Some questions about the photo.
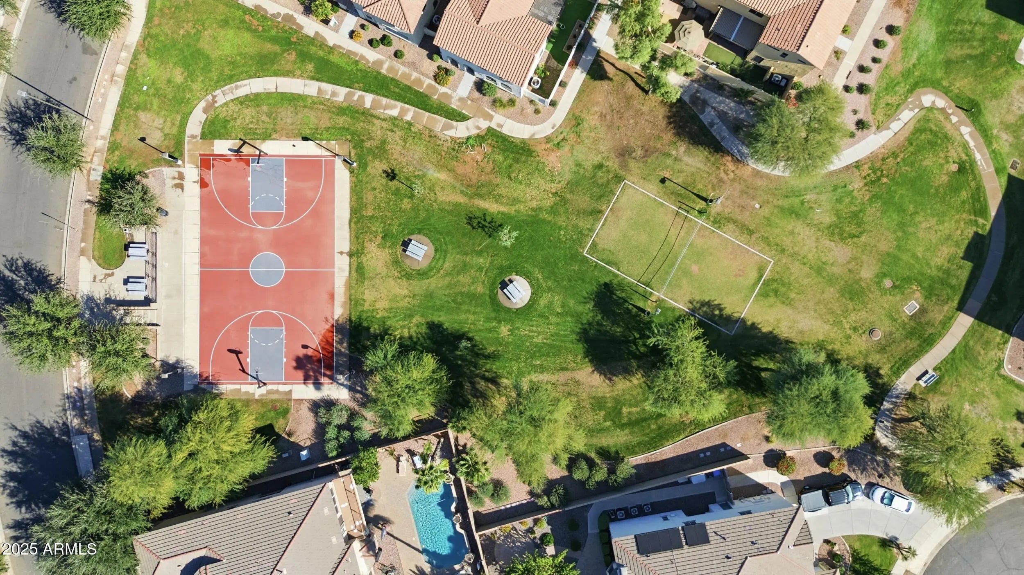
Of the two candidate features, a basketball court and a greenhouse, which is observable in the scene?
basketball court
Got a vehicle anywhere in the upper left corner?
No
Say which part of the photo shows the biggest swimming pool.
bottom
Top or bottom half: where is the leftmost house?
bottom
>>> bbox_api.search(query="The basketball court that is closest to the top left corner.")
[199,154,335,385]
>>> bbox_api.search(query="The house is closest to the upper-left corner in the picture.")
[346,0,437,46]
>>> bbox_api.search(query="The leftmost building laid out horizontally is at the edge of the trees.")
[132,464,384,575]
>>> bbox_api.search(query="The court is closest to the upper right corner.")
[585,182,773,334]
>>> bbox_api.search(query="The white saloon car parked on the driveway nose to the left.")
[868,484,917,514]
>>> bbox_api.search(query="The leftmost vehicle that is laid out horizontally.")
[801,481,862,511]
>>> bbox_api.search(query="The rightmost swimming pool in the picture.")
[406,482,469,570]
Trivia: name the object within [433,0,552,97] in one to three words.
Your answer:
house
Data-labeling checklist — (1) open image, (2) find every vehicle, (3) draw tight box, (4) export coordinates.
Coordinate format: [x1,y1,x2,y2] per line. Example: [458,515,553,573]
[868,484,917,514]
[801,481,862,511]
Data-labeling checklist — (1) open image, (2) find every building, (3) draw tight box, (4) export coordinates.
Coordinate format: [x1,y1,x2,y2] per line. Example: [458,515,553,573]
[697,0,857,81]
[433,0,552,97]
[132,464,384,575]
[346,0,437,46]
[608,492,816,575]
